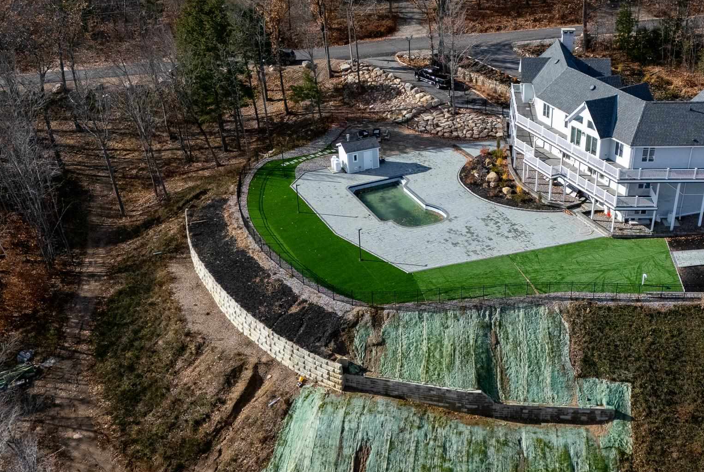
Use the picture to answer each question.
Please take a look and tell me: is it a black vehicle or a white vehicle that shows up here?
black vehicle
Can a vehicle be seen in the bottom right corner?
No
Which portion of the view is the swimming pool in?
center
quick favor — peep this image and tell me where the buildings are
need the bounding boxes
[337,128,381,173]
[516,25,704,217]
